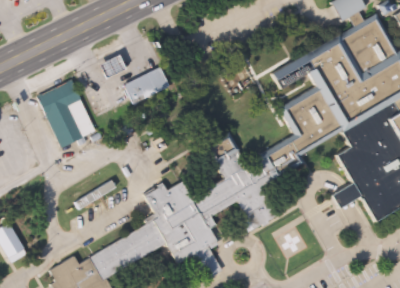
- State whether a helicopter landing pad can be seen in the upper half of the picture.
No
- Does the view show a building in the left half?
Yes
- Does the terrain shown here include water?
No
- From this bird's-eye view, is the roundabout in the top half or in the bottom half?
bottom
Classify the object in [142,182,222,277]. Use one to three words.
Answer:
building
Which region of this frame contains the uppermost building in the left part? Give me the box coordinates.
[123,68,169,104]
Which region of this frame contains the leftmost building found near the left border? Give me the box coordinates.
[0,228,26,262]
